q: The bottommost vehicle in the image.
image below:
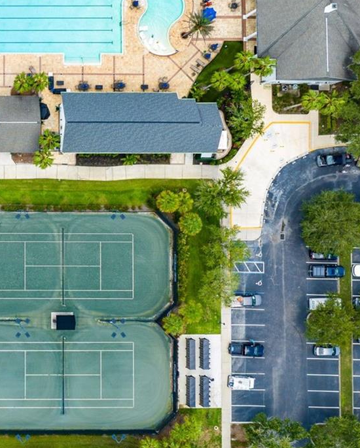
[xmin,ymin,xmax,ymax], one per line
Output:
[226,375,258,390]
